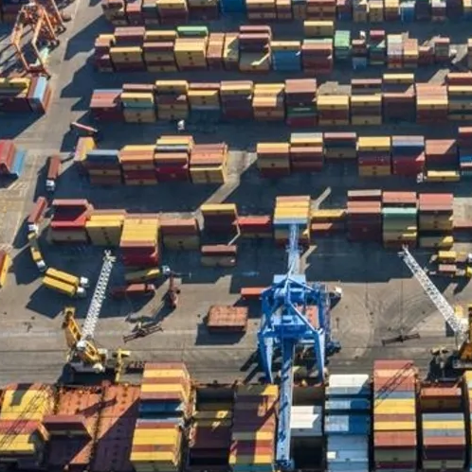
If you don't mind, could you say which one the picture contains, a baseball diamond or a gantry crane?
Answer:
gantry crane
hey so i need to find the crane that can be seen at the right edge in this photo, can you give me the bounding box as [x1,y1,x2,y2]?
[398,249,472,380]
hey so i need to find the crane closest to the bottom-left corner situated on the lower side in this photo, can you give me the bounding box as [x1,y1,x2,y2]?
[69,254,117,384]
